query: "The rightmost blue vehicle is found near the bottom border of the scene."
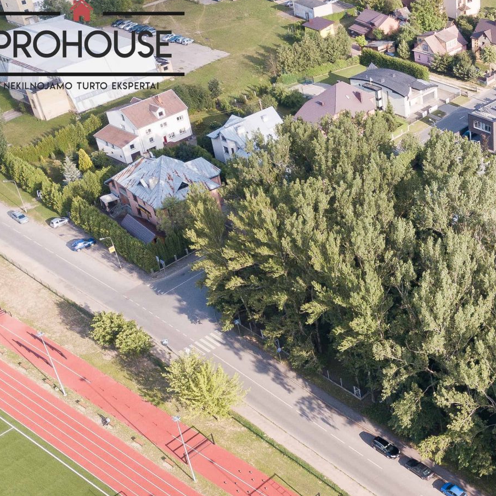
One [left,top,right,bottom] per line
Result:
[439,482,469,496]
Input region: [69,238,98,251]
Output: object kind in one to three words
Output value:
vehicle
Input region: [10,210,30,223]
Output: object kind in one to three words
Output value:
vehicle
